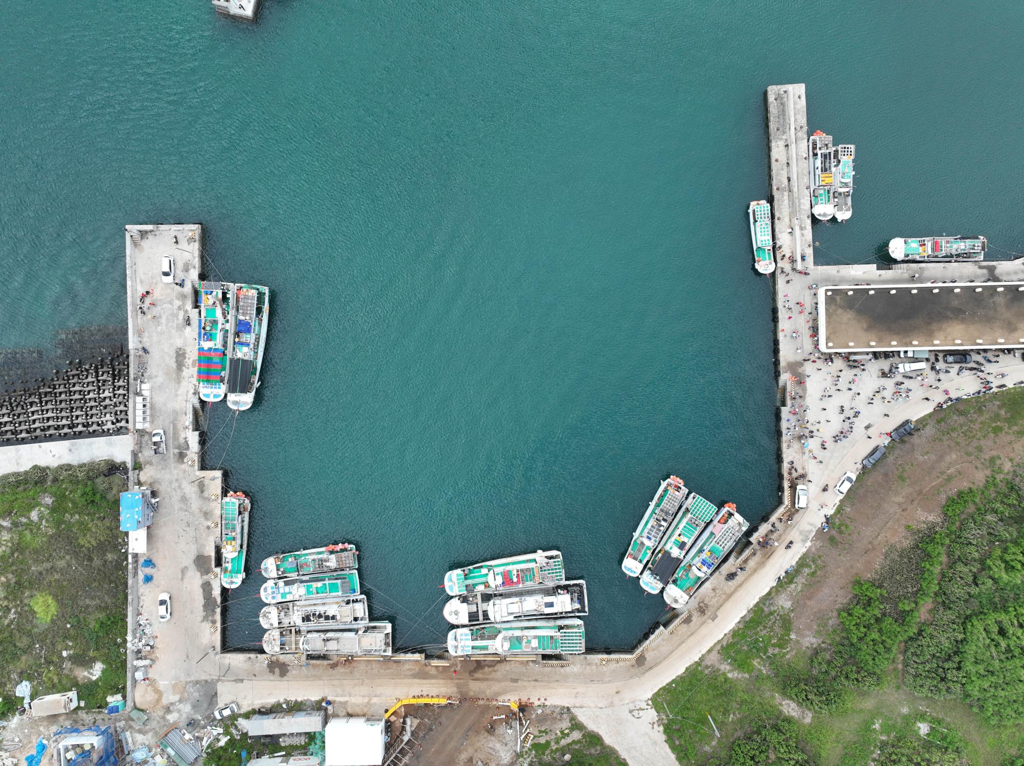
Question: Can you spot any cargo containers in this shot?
Yes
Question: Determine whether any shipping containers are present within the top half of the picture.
No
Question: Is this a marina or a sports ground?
marina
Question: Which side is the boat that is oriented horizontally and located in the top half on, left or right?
right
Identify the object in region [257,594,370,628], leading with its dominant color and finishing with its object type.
white boat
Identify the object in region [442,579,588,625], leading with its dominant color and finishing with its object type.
white boat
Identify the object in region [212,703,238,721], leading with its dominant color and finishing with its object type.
white car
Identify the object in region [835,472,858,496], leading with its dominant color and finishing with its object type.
white car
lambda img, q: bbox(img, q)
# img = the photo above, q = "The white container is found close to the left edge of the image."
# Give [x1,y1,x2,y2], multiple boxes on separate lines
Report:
[31,691,80,717]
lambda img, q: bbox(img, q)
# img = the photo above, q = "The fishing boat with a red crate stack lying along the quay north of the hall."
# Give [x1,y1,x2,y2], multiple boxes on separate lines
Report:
[876,233,986,262]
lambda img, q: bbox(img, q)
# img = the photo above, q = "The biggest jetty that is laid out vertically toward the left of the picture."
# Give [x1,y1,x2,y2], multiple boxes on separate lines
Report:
[126,223,226,714]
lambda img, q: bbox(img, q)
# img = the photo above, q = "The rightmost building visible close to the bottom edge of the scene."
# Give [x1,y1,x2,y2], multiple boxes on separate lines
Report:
[323,716,385,766]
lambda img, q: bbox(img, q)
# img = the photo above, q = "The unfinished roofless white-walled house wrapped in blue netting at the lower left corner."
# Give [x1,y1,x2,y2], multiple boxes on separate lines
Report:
[52,727,118,766]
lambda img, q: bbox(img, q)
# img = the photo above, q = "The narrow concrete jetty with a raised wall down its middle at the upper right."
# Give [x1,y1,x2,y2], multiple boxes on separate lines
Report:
[764,83,813,270]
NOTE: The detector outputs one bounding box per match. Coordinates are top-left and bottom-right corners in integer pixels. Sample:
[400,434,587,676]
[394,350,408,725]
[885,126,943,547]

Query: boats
[258,543,360,579]
[261,620,393,656]
[197,281,236,408]
[257,594,370,628]
[224,284,271,415]
[442,579,588,625]
[641,493,719,598]
[258,568,362,602]
[807,135,835,229]
[622,478,689,580]
[833,145,859,230]
[217,496,251,591]
[447,618,584,658]
[440,550,565,595]
[666,507,751,612]
[747,202,779,282]
[876,233,986,262]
